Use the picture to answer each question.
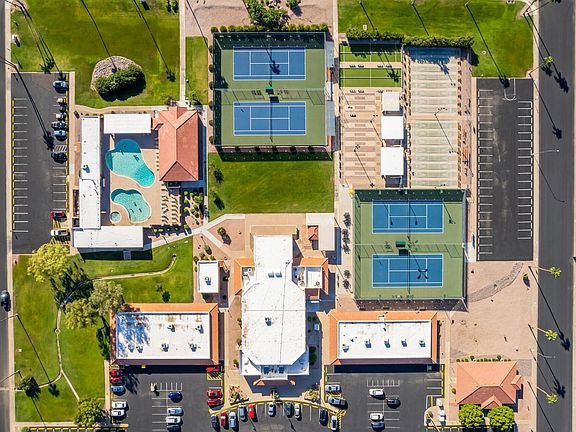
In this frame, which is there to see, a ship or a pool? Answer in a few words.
pool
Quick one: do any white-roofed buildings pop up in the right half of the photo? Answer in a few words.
Yes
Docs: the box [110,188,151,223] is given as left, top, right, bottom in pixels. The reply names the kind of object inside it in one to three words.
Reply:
swimming pool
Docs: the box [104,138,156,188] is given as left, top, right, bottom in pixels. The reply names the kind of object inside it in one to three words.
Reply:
swimming pool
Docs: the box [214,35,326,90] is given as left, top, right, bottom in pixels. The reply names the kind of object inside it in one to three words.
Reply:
tennis court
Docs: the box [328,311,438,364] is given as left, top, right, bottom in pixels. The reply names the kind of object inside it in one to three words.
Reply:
building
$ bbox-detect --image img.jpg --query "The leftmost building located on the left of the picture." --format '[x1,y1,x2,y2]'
[74,116,146,248]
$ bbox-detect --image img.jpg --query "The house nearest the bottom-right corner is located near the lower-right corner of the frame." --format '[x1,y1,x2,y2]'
[456,361,521,406]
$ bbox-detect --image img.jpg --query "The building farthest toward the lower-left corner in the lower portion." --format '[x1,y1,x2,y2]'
[110,304,219,365]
